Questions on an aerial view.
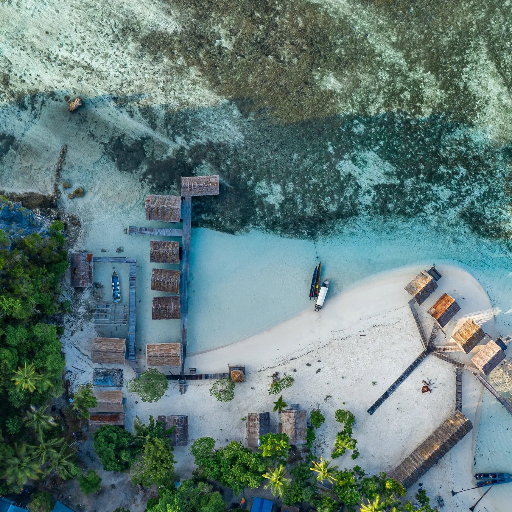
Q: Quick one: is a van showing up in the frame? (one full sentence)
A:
No, this view has no van in it.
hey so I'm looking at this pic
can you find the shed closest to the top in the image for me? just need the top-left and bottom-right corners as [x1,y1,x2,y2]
[181,175,221,197]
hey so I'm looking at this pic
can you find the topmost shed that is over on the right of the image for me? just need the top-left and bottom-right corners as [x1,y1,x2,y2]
[404,270,438,306]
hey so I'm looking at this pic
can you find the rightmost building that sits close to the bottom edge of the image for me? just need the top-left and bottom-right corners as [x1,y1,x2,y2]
[386,407,476,492]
